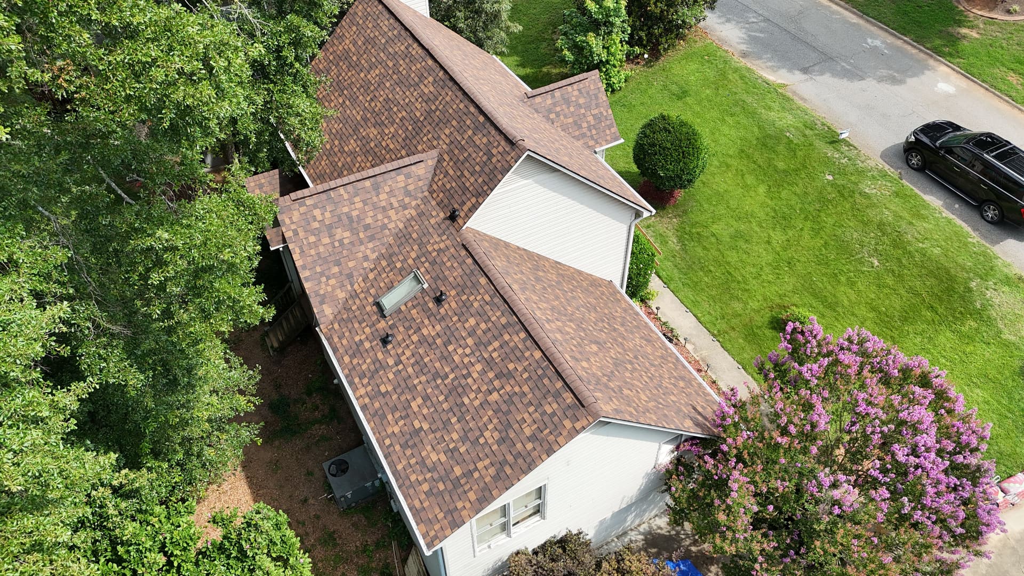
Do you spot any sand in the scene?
No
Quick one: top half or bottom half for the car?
top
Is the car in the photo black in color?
Yes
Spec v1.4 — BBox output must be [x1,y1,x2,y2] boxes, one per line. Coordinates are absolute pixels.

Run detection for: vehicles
[901,119,1024,231]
